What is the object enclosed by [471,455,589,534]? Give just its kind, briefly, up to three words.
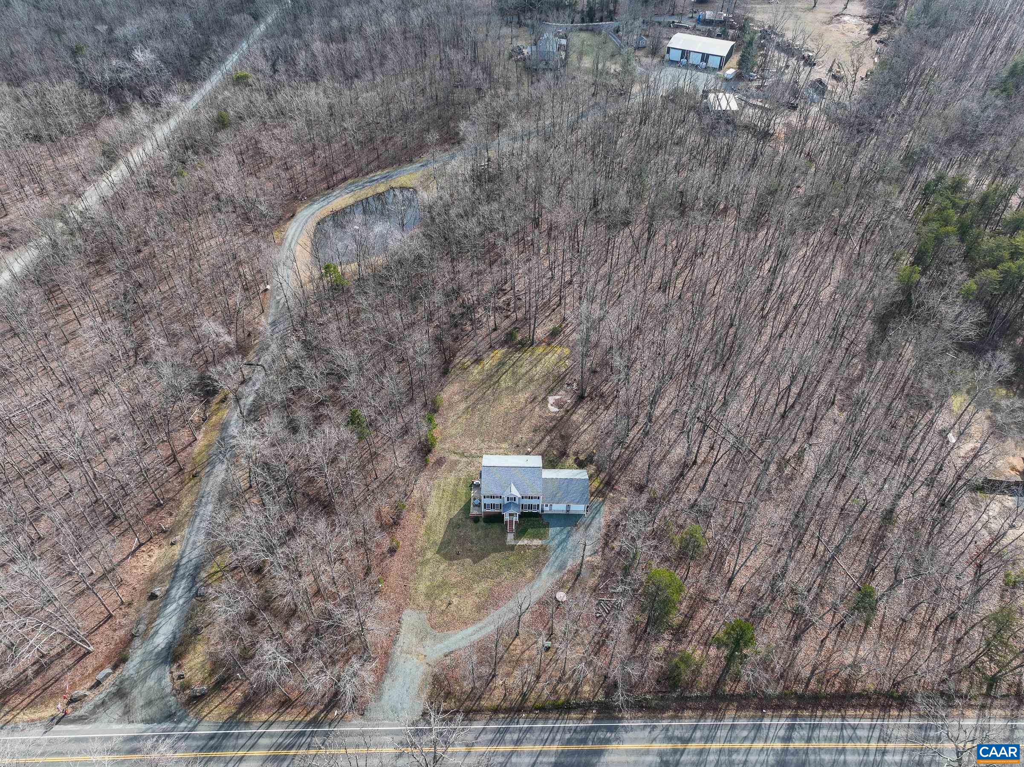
house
